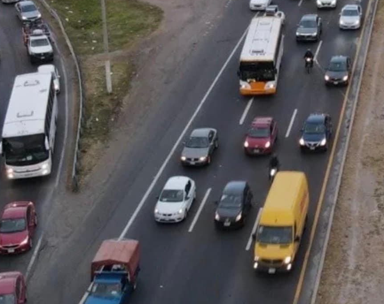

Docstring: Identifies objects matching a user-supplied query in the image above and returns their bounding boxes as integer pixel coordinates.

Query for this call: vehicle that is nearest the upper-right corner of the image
[338,5,364,28]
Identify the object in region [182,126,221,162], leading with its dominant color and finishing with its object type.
gray car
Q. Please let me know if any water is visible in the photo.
No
